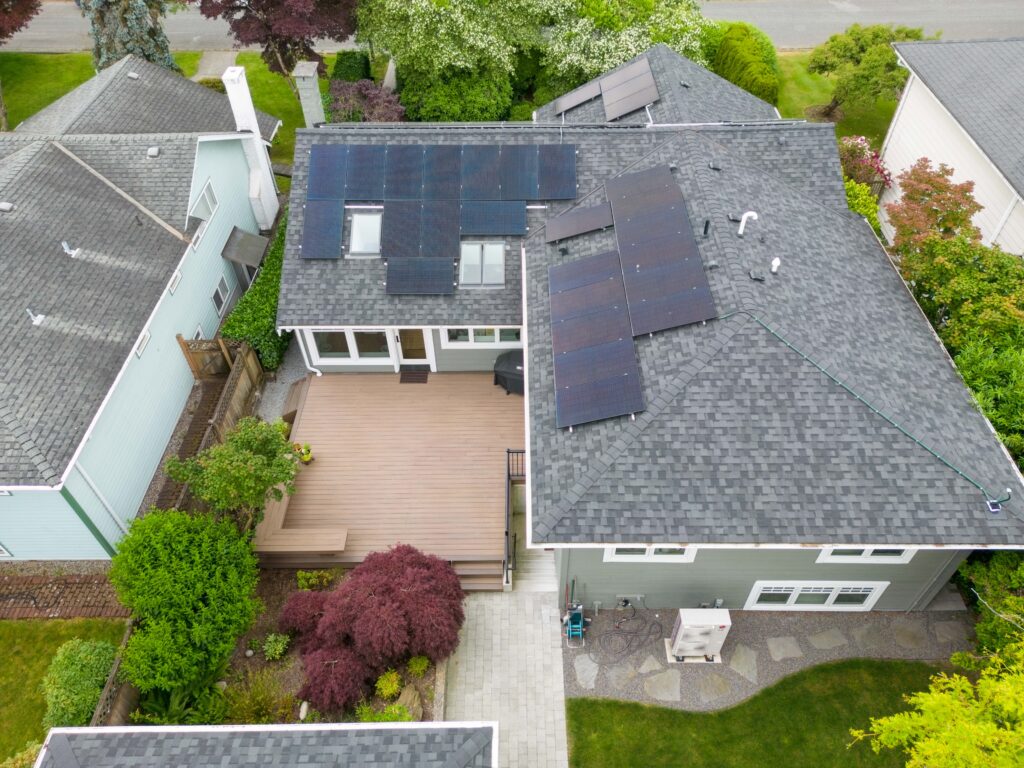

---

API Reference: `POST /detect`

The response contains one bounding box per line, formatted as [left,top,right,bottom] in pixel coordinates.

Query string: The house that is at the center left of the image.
[0,53,290,559]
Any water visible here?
No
